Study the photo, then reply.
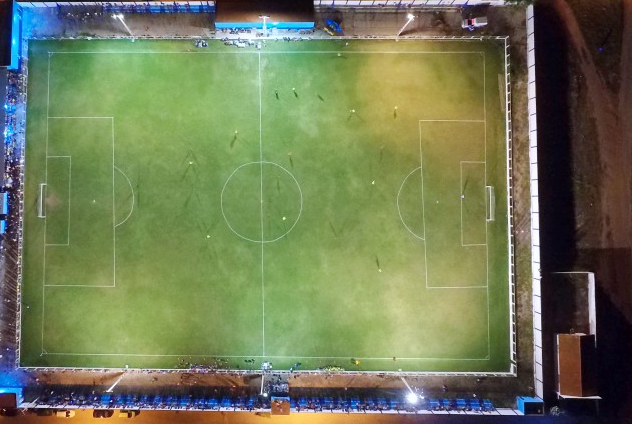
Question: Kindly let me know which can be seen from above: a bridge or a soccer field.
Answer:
soccer field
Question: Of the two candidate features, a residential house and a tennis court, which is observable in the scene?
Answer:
residential house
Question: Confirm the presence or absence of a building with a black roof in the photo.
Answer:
Yes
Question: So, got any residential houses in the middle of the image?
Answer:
No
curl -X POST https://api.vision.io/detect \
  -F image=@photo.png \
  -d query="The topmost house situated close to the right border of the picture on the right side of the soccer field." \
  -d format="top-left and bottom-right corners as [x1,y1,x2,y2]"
[548,330,602,401]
